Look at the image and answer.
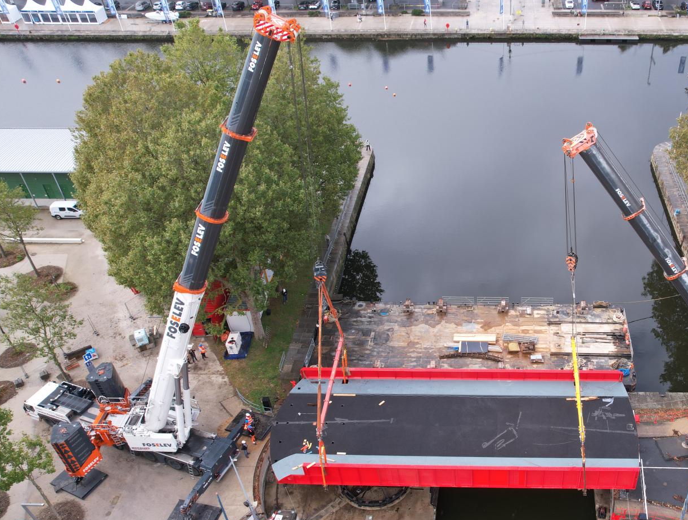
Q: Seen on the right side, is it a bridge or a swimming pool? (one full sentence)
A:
The feature located on the right side is a bridge.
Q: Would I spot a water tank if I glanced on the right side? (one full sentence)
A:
No, I see no water tank on the right side.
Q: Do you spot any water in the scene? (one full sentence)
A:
Yes, water can be seen from above here.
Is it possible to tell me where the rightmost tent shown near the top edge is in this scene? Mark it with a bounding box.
[20,0,109,24]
